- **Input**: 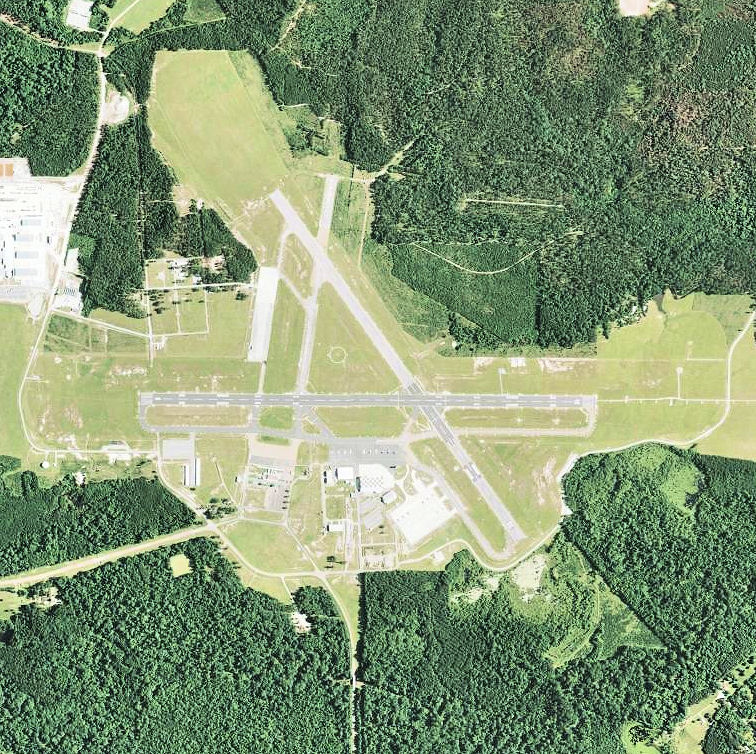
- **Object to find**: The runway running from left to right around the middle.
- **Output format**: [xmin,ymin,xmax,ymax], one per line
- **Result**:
[140,392,597,408]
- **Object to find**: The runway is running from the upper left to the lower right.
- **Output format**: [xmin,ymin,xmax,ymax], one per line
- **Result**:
[269,190,524,542]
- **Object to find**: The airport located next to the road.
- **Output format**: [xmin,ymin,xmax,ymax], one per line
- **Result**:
[44,176,692,559]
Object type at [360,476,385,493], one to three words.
hangar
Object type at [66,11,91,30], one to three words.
building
